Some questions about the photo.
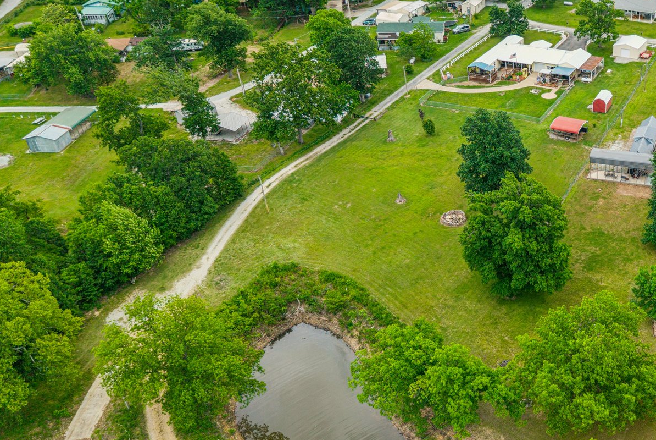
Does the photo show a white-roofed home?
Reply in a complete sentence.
Yes, there's a white-roofed home here.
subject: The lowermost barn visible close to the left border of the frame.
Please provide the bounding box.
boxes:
[21,101,97,153]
